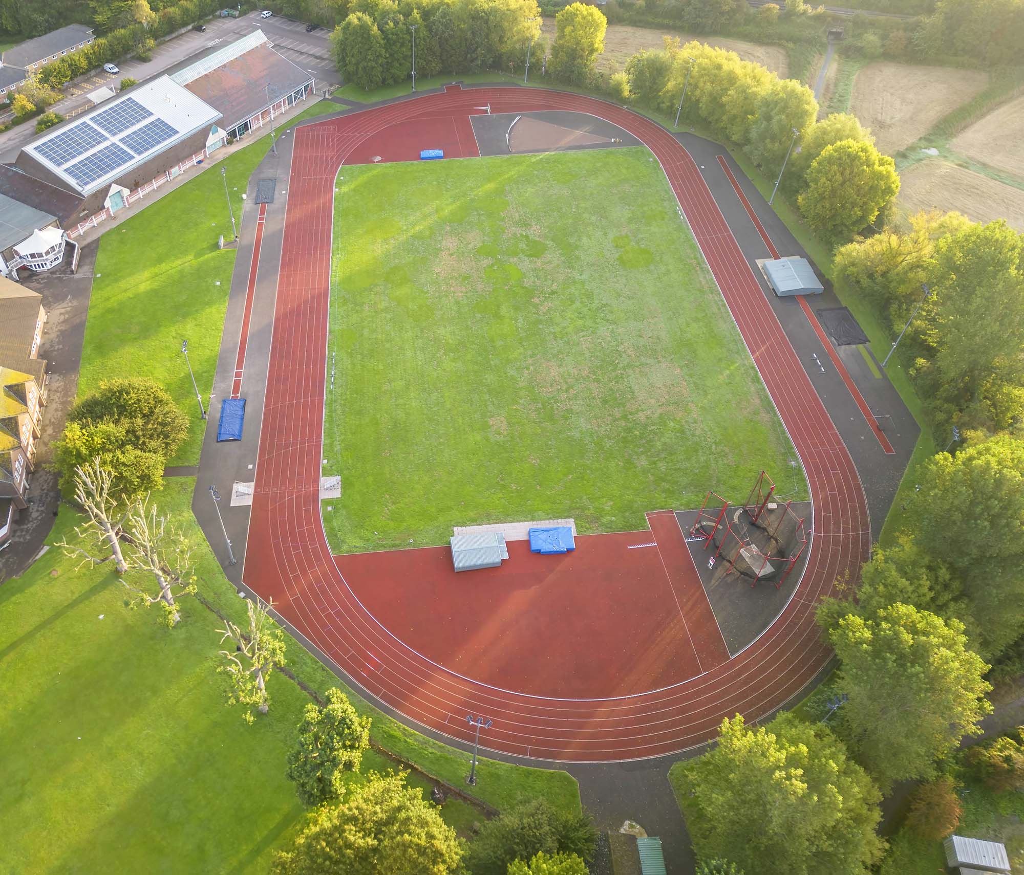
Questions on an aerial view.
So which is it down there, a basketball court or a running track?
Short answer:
running track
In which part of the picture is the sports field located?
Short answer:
center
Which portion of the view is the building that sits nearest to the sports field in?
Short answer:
top left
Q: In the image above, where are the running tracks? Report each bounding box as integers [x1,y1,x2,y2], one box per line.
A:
[241,84,871,763]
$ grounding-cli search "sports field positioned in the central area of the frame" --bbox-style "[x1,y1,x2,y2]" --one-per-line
[320,146,811,553]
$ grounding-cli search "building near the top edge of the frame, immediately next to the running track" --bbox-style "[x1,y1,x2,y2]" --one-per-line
[0,32,319,239]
